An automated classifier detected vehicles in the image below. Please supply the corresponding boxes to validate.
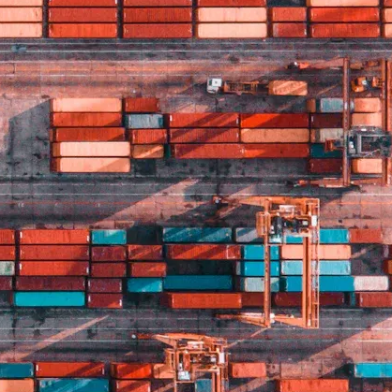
[206,77,267,96]
[349,76,379,93]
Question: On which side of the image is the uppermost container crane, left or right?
right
